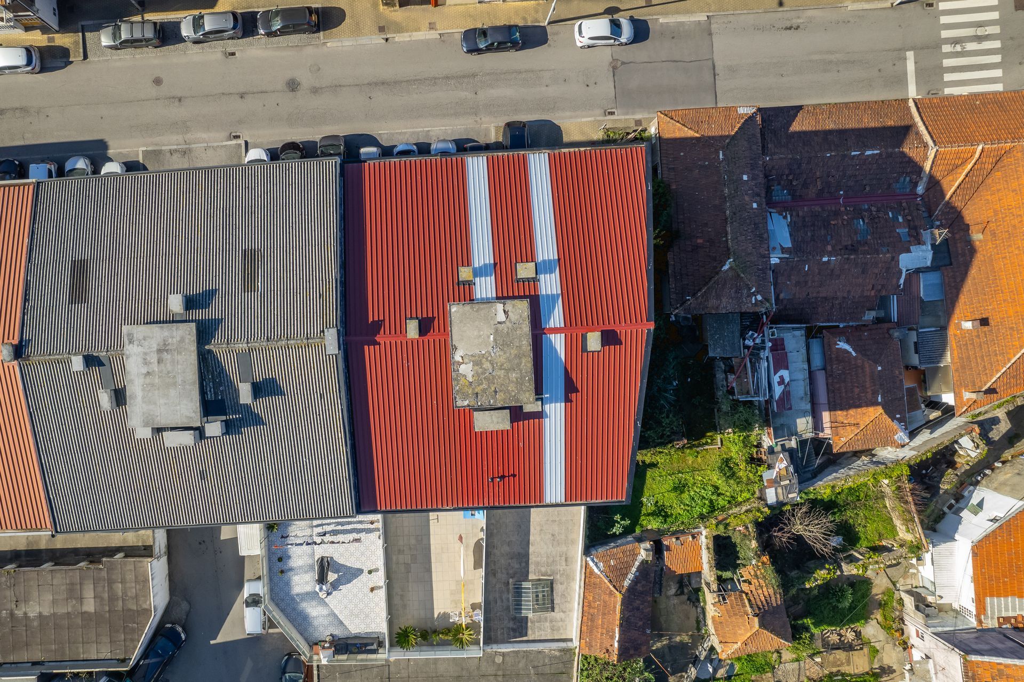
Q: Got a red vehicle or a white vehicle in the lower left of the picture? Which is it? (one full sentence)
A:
Visible in the lower left of the picture is a white vehicle.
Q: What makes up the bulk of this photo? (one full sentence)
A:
The bulk of the photo consists of buildings.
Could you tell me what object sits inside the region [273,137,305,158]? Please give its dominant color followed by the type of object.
black car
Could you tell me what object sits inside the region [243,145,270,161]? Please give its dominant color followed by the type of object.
white car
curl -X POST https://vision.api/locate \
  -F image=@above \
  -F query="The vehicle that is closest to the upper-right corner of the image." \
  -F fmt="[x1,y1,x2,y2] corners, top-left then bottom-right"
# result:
[575,14,635,49]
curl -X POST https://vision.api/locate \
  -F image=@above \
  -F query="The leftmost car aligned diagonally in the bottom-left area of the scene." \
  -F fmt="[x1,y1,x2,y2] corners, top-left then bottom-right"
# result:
[120,626,178,682]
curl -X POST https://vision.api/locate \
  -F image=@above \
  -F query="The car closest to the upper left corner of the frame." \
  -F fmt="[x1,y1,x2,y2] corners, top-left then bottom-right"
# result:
[0,42,37,74]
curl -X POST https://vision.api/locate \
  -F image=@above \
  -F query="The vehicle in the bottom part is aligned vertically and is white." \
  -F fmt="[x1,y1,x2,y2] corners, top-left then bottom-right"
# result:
[239,582,266,642]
